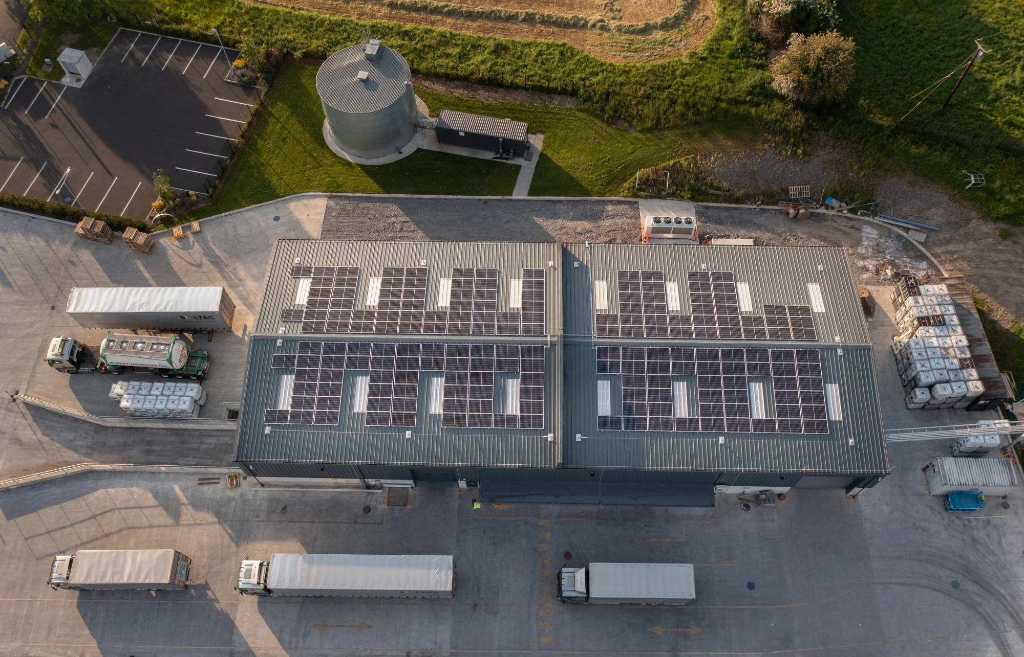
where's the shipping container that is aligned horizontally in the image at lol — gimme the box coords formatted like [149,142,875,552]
[918,458,1019,495]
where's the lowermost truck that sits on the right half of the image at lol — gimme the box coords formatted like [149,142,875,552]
[555,562,696,606]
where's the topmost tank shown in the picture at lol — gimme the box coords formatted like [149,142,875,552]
[316,28,437,161]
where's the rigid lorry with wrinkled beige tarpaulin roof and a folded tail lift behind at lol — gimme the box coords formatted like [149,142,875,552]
[49,549,198,594]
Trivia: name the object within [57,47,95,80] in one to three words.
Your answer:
shed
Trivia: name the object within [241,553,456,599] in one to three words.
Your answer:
truck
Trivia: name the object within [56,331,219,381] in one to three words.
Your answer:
truck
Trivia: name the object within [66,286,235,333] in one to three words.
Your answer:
trailer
